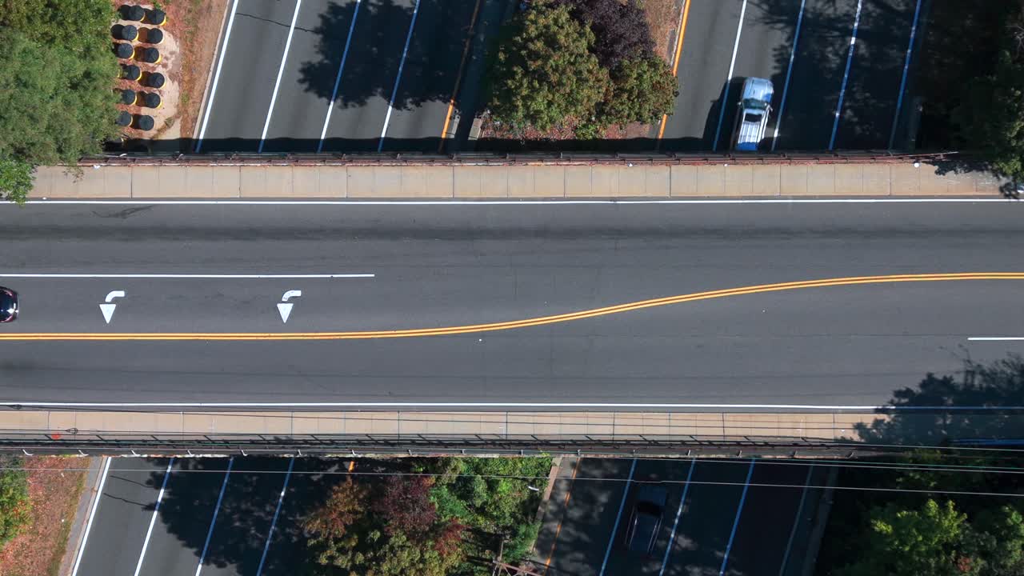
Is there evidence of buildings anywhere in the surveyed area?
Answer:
No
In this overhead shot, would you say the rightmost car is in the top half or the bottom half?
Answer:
top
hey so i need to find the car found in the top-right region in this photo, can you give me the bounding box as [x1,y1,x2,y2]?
[726,76,773,158]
